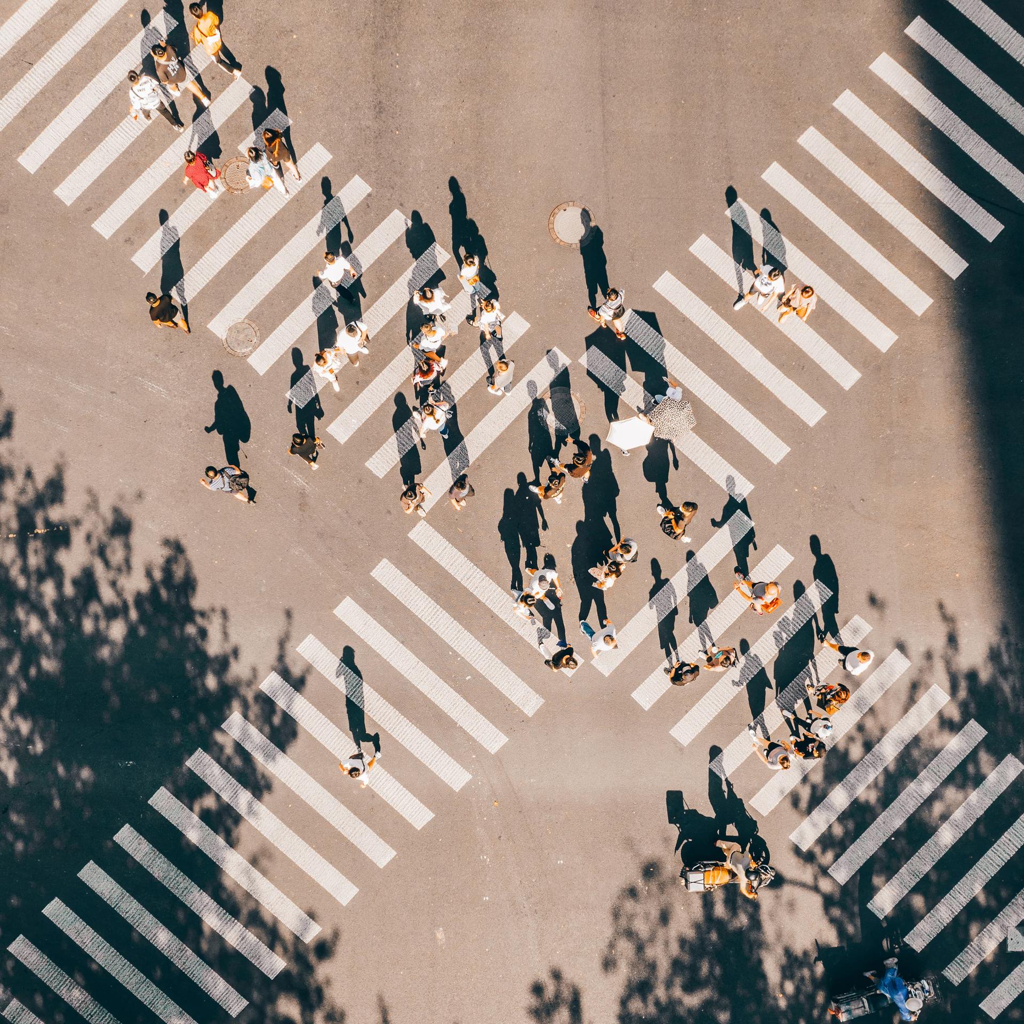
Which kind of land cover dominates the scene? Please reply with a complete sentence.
The bulk of the photo consists of paved ground.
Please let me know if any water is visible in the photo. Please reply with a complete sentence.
No, there's no water in this view.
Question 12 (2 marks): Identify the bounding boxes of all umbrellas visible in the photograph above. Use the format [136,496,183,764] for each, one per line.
[603,408,656,453]
[647,393,695,442]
